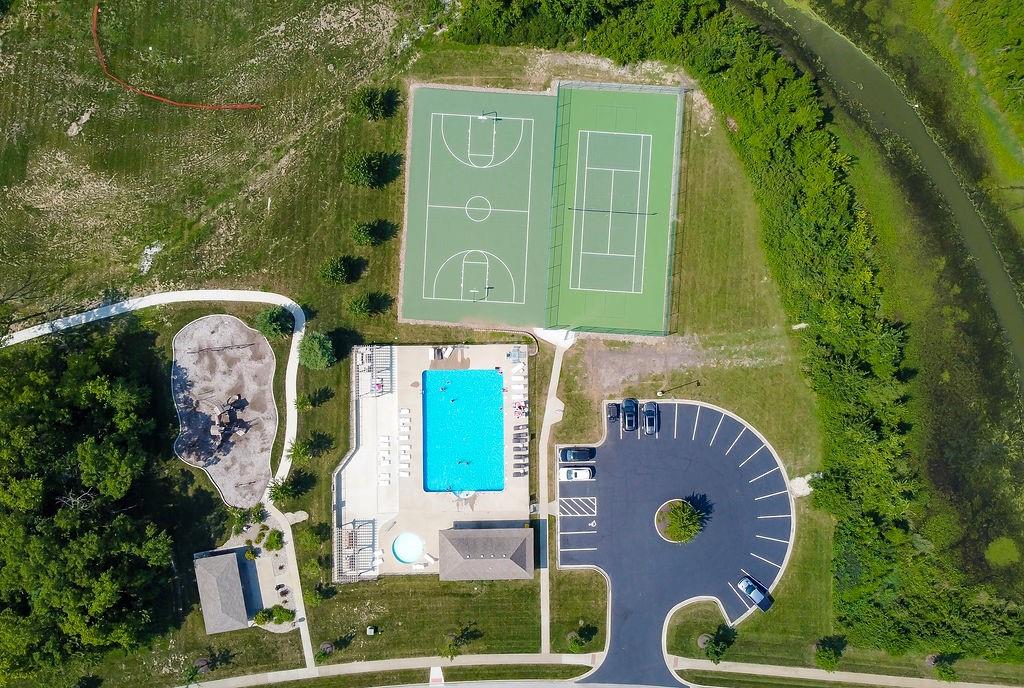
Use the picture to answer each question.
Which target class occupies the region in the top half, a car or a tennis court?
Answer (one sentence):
Looking in the top half, you will find a tennis court.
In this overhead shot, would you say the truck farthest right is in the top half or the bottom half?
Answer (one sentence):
The bottom half of the photo is where the truck farthest right is.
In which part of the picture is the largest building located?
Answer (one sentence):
The largest building is located in the bottom region of the scene.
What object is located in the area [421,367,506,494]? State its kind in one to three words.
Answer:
swimming pool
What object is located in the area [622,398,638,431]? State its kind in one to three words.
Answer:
car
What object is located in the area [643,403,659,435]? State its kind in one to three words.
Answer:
car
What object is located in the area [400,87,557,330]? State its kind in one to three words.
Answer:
basketball court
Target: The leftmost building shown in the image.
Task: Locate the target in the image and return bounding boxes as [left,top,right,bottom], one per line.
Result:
[194,550,253,634]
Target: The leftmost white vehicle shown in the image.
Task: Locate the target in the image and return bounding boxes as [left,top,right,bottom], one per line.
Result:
[560,466,592,482]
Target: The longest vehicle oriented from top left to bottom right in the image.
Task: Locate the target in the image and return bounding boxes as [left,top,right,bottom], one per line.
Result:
[738,573,773,613]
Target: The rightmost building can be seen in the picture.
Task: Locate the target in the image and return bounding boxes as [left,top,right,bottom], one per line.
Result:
[440,527,534,581]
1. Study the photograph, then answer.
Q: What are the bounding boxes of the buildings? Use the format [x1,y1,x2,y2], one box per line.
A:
[194,550,253,634]
[440,527,534,581]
